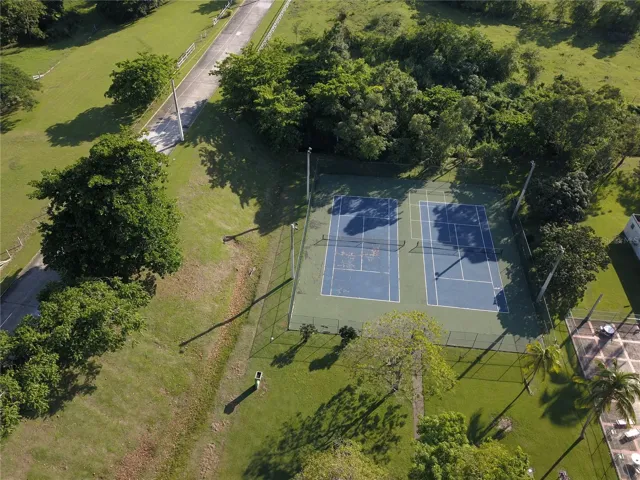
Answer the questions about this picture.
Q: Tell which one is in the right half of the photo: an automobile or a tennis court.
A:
tennis court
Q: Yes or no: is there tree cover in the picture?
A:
Yes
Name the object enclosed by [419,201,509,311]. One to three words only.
tennis court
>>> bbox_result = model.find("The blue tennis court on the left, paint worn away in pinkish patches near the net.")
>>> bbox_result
[321,195,399,301]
